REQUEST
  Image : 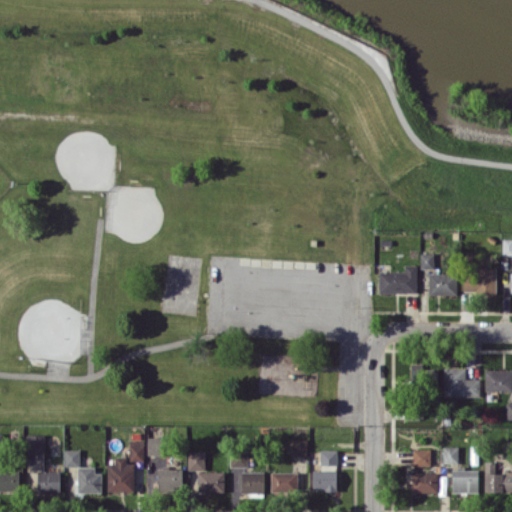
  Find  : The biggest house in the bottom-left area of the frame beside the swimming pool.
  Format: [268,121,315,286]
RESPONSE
[107,460,134,495]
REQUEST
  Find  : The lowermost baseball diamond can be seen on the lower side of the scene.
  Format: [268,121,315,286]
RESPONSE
[18,299,80,363]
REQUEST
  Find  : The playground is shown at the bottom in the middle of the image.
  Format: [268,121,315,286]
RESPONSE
[258,356,318,397]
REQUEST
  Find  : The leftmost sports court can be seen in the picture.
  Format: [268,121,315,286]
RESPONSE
[162,256,202,317]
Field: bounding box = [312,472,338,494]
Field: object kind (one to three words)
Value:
house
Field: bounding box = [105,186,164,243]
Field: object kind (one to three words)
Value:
baseball field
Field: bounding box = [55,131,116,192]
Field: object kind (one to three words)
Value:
baseball field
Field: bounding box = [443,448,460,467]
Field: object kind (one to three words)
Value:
building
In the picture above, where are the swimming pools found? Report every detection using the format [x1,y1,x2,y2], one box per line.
[108,438,124,456]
